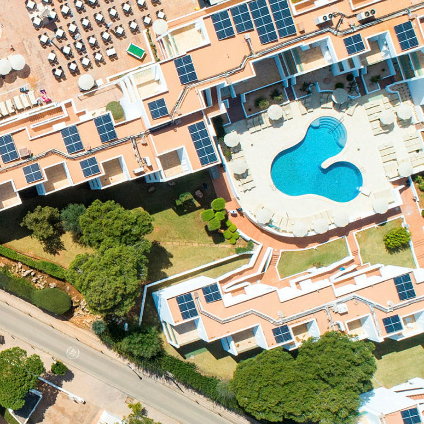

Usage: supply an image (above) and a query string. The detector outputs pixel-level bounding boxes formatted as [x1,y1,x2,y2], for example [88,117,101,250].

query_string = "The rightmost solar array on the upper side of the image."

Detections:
[393,22,419,50]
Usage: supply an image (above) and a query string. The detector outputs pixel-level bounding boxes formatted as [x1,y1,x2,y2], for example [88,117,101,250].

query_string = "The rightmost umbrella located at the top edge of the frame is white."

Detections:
[151,18,168,36]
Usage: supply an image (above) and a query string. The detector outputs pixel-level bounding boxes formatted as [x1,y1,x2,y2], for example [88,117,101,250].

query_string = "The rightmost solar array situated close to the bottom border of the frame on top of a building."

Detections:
[401,406,423,424]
